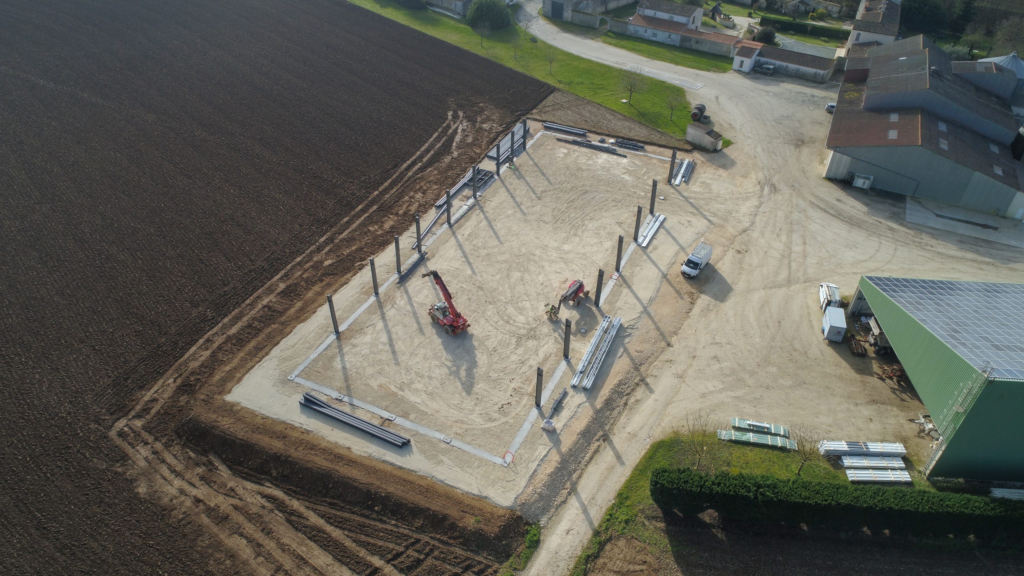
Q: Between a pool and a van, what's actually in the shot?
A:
van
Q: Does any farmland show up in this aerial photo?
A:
Yes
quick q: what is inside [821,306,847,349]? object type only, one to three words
trailer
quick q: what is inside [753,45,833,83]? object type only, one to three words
shed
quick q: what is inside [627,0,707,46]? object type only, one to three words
house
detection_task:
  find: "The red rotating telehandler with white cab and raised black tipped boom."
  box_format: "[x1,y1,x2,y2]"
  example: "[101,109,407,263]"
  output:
[418,274,473,343]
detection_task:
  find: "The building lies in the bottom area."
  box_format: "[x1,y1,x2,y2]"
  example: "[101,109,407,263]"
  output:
[848,274,1024,484]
